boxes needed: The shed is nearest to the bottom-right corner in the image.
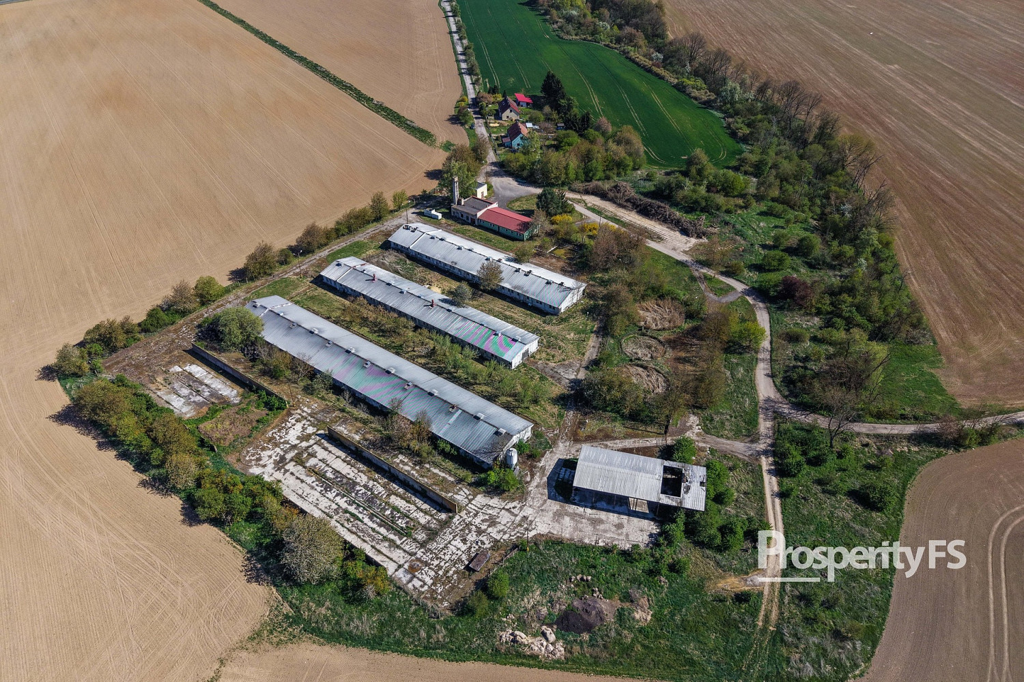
[573,445,712,519]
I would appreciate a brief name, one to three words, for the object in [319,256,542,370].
barn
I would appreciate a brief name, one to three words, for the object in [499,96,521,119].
house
